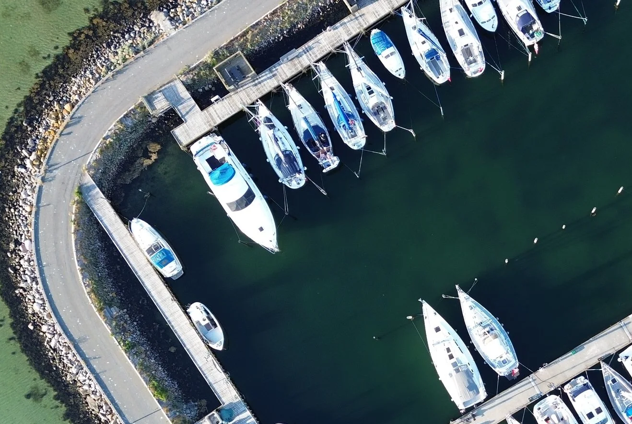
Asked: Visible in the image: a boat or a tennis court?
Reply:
boat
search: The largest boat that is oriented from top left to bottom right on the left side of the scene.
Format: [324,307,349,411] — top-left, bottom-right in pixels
[192,131,280,252]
